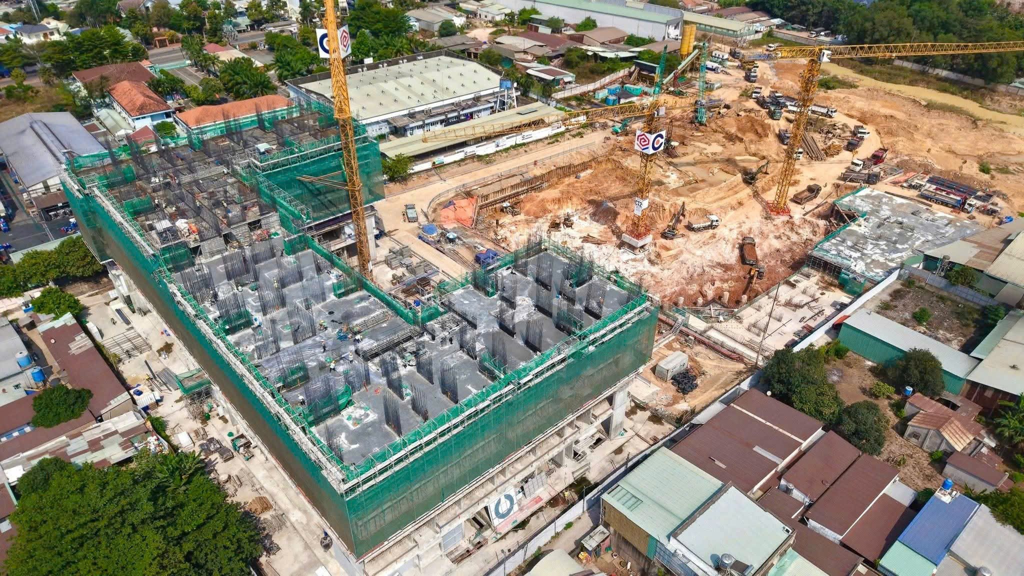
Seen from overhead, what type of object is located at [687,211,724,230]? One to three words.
vehicle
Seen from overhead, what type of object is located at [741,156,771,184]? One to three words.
work vehicle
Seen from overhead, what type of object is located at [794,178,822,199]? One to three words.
truck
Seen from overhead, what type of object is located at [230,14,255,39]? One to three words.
building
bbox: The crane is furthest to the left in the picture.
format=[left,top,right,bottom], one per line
[303,0,377,277]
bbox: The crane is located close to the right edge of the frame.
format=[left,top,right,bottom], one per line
[747,35,1024,217]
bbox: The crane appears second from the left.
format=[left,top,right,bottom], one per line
[421,97,728,251]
